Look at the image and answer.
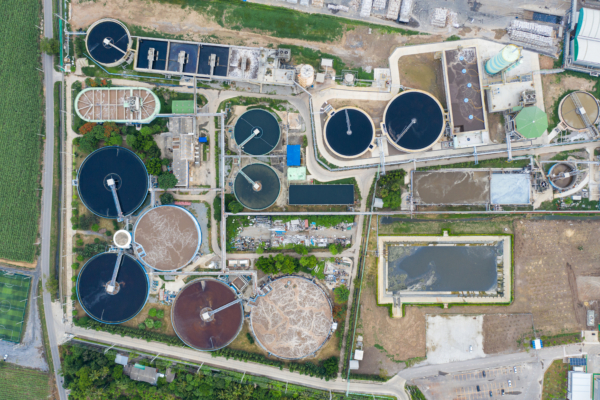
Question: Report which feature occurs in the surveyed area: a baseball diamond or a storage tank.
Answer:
storage tank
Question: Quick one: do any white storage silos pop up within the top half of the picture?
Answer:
Yes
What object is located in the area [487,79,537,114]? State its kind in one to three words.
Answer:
building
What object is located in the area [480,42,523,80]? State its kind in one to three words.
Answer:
silo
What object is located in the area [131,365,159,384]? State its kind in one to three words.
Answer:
house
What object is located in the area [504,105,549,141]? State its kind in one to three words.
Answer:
storage tank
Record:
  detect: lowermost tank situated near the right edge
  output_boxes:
[544,162,589,191]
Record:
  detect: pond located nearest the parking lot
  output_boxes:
[369,229,512,318]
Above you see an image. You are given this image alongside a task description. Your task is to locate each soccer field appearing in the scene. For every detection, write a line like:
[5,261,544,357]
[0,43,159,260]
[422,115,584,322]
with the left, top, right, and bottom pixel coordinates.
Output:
[0,269,35,348]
